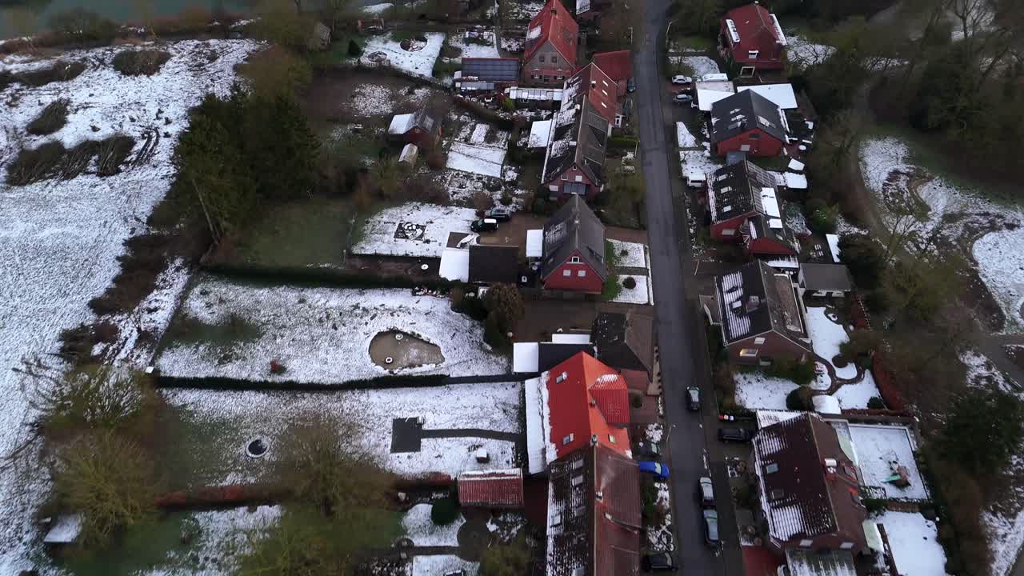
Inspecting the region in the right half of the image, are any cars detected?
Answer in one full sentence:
Yes, the scene does show a car in the right half of the image.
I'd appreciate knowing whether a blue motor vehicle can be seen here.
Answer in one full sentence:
Yes, looking at the shot, I can spot a blue motor vehicle.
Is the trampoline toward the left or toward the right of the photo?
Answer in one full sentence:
The trampoline is on the left side of the image.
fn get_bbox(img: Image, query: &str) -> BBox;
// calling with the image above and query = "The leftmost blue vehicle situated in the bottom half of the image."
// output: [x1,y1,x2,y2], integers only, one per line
[637,461,670,479]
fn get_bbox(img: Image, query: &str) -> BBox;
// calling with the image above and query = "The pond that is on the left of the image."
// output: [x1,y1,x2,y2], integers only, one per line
[370,330,445,371]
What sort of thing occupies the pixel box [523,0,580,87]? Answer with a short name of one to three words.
house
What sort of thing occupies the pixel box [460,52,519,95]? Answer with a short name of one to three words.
building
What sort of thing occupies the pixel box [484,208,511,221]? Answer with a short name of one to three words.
vehicle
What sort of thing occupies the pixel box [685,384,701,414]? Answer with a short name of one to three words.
car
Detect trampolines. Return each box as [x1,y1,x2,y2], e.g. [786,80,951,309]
[244,435,269,457]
